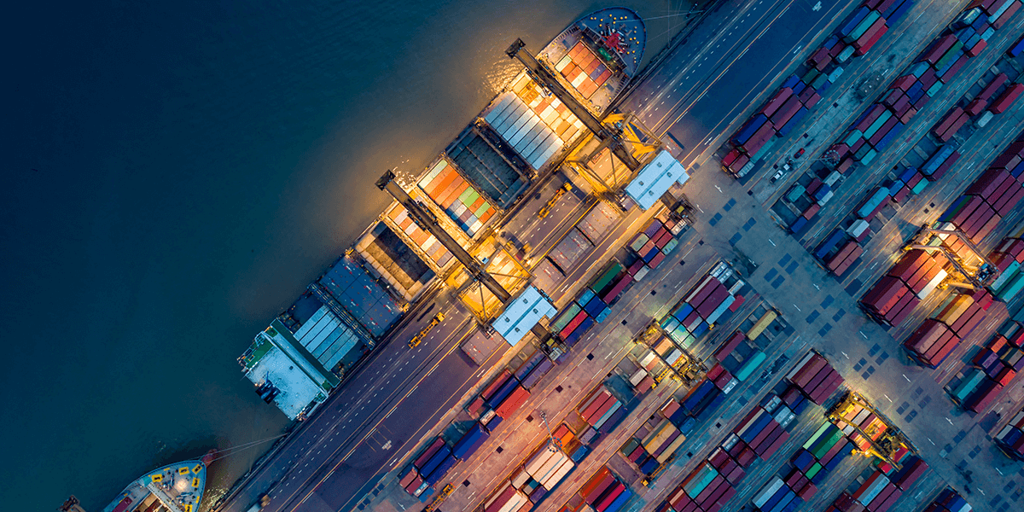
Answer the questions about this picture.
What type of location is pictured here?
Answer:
port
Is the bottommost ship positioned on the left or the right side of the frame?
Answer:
left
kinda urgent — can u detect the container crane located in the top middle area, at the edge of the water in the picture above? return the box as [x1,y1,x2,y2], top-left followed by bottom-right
[505,33,701,226]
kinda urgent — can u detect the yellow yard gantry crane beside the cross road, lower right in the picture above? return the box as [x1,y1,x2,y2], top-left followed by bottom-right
[828,392,917,471]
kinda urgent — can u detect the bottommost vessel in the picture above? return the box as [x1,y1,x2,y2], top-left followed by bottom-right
[98,448,218,512]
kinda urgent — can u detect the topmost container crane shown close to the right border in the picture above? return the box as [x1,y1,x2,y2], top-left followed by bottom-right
[907,223,1001,290]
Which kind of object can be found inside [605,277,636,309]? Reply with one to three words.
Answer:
shipping container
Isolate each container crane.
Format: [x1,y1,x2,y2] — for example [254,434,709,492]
[828,392,917,471]
[633,315,711,388]
[373,169,569,361]
[907,223,1001,290]
[505,33,701,226]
